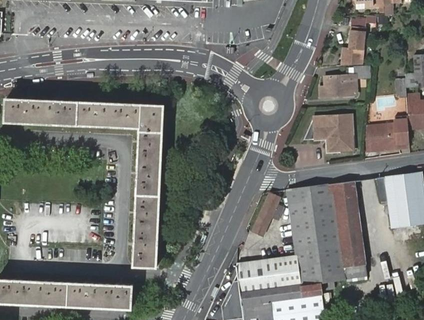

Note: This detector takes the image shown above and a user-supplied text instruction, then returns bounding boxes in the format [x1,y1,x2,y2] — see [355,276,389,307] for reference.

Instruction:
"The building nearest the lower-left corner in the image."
[0,278,134,312]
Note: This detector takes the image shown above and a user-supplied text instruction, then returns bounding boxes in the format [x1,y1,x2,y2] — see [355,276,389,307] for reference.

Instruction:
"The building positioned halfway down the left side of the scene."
[3,98,164,270]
